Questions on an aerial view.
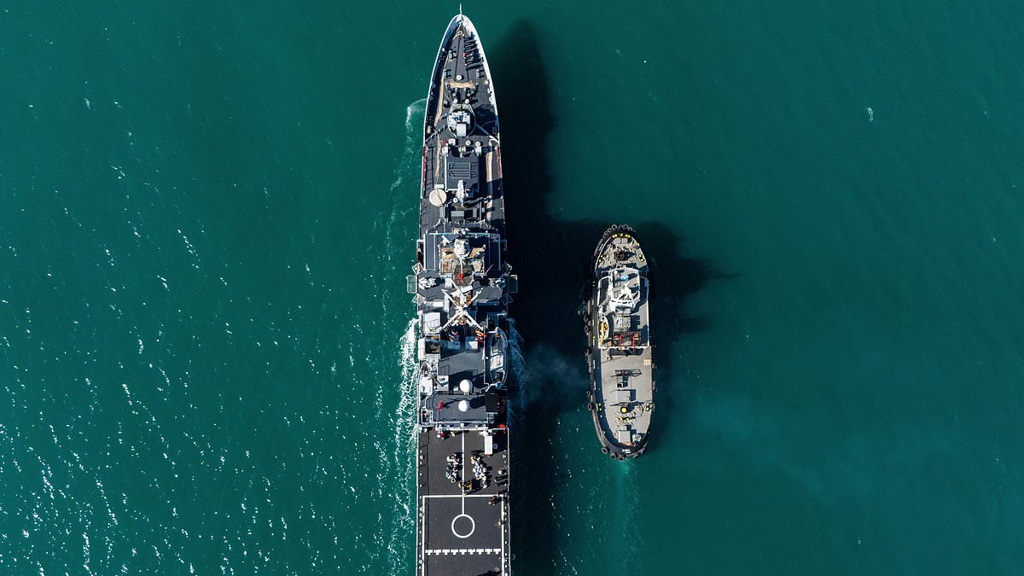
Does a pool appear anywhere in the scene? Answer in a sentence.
No, there is no pool in the image.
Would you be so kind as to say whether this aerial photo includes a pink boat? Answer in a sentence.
No, there isn't any pink boat down there.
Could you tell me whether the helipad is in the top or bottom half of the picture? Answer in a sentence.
The helipad is in the bottom half of the image.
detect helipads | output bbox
[416,430,511,576]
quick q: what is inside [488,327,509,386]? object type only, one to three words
boat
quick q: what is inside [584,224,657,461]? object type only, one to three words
boat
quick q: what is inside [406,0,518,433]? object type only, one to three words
ship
